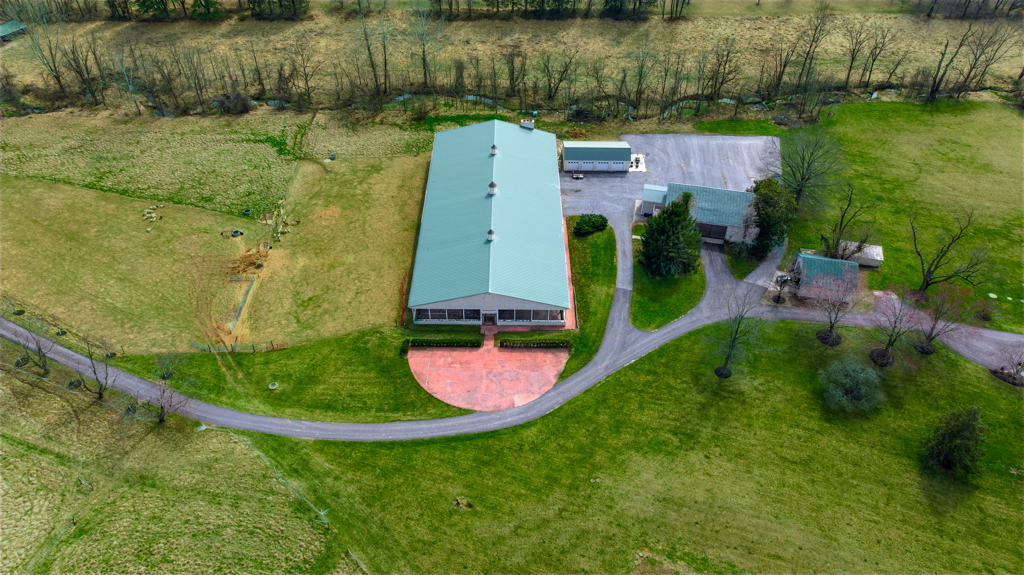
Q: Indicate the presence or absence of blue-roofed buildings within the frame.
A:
Yes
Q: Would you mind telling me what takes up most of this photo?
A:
grass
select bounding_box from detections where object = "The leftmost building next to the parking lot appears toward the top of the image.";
[408,115,569,325]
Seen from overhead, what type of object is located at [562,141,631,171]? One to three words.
building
